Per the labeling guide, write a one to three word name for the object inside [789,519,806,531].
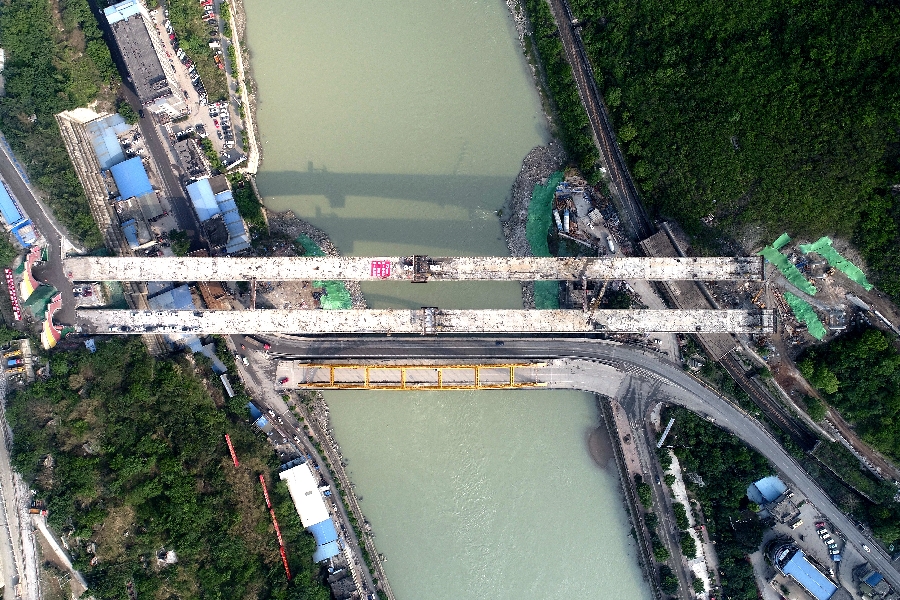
vehicle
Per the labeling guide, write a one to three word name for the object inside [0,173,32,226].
building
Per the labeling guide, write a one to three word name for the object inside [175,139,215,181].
house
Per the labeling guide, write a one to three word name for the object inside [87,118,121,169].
shed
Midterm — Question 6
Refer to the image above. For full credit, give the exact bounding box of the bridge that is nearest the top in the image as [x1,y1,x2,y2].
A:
[69,257,762,281]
